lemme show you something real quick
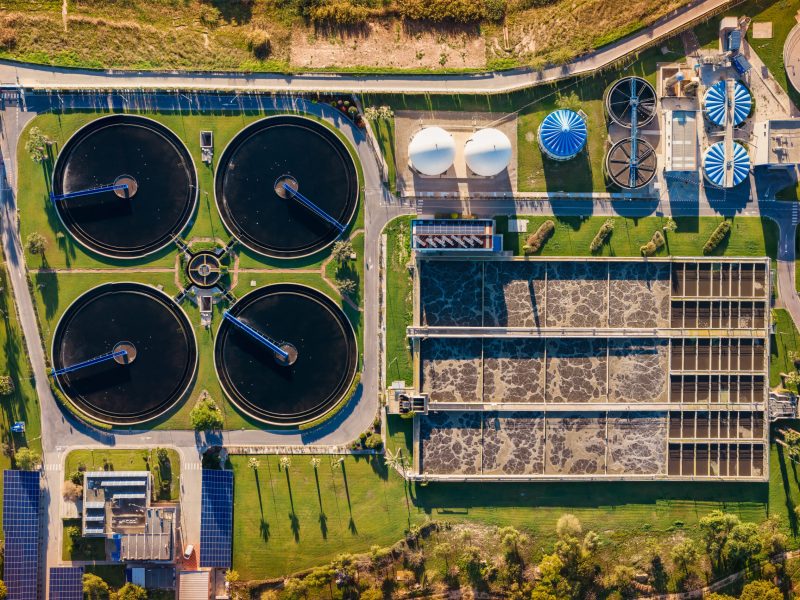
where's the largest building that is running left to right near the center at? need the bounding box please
[412,220,512,256]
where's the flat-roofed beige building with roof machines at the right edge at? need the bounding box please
[747,119,800,171]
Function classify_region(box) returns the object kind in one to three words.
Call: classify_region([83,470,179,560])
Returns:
building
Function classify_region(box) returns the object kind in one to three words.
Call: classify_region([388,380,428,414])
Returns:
building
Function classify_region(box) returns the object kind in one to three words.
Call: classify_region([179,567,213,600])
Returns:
shed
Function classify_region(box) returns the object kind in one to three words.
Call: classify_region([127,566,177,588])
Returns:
shed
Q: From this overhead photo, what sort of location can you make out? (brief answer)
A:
industrial area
